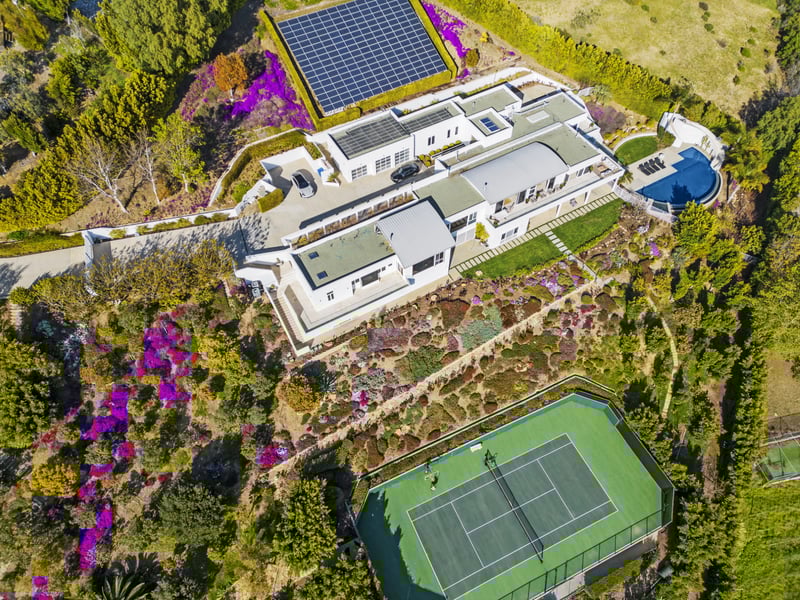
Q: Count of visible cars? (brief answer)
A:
2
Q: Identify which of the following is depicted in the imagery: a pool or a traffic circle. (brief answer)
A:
pool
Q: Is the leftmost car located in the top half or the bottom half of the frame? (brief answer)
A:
top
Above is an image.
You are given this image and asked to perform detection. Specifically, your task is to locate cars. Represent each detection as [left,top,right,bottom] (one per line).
[388,161,423,182]
[291,172,314,199]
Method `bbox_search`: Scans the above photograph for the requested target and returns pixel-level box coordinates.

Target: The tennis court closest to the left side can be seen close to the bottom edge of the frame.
[357,395,660,600]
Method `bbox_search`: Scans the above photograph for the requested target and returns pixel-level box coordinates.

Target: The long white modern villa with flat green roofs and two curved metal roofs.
[232,83,623,358]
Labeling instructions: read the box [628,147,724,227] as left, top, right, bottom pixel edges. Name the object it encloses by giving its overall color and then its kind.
blue swimming pool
